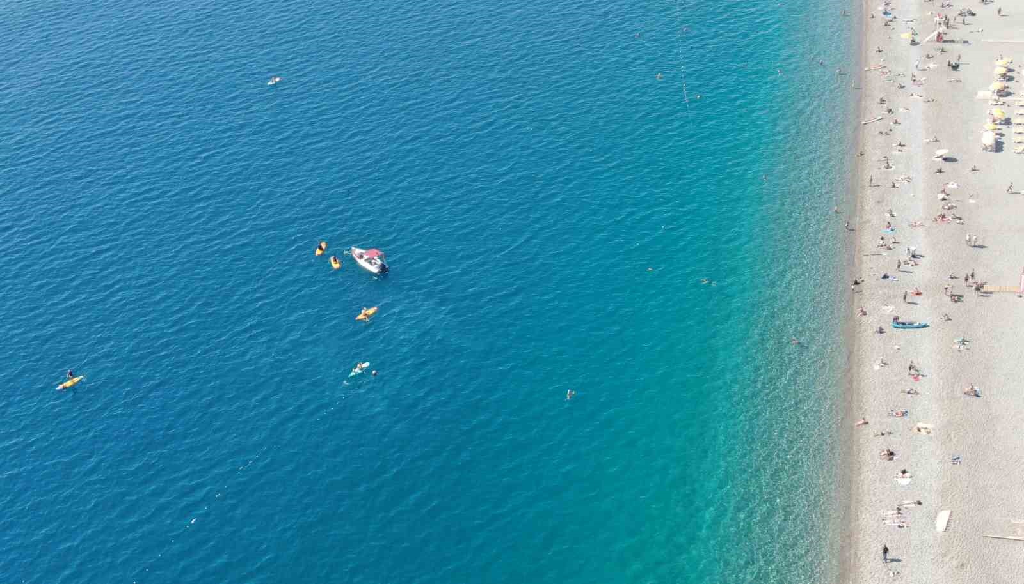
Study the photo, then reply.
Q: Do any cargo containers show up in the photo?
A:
No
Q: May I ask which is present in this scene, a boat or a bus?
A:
boat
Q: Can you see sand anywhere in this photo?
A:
Yes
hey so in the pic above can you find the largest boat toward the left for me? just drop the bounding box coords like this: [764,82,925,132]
[353,245,389,275]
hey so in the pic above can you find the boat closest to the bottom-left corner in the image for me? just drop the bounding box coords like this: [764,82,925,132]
[56,375,84,389]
